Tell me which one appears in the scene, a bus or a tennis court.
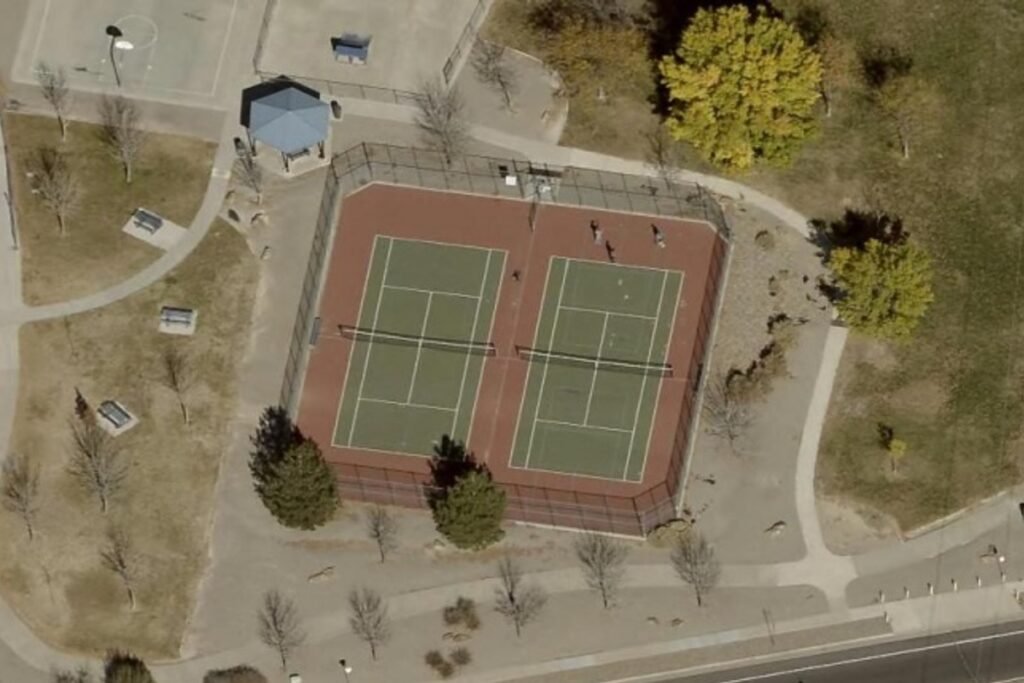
tennis court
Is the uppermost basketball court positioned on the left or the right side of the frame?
left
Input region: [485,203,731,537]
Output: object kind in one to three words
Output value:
tennis court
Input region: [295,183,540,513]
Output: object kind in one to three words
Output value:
tennis court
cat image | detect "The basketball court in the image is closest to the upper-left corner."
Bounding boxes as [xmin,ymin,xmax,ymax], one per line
[12,0,239,110]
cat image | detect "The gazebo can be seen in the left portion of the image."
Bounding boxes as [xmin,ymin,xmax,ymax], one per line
[252,87,330,173]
